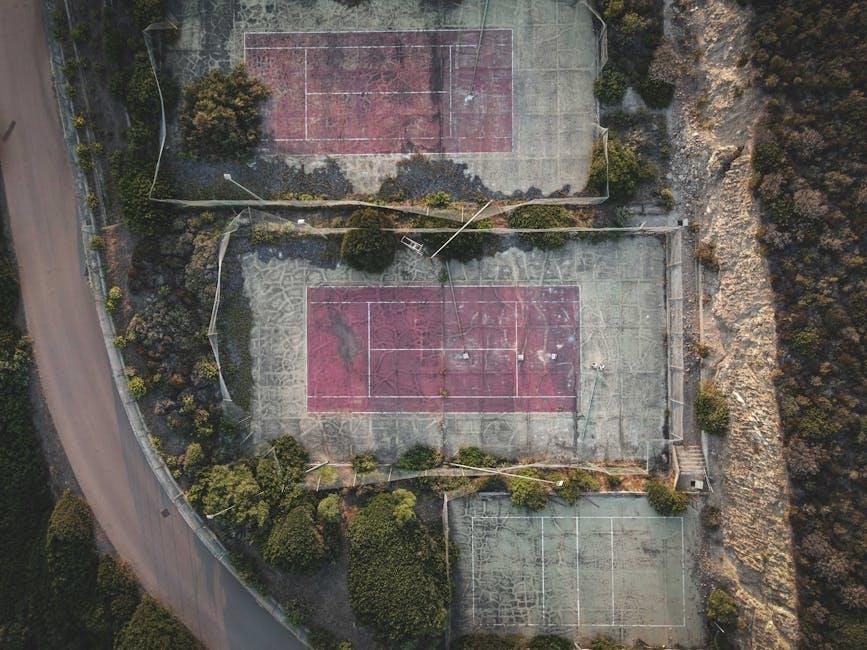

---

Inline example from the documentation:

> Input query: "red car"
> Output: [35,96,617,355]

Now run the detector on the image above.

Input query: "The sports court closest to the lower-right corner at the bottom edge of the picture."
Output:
[450,492,703,650]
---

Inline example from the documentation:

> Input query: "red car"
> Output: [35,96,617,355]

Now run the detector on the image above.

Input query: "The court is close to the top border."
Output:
[160,0,601,201]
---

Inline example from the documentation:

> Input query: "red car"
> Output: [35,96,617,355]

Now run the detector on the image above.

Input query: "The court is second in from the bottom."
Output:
[218,231,667,468]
